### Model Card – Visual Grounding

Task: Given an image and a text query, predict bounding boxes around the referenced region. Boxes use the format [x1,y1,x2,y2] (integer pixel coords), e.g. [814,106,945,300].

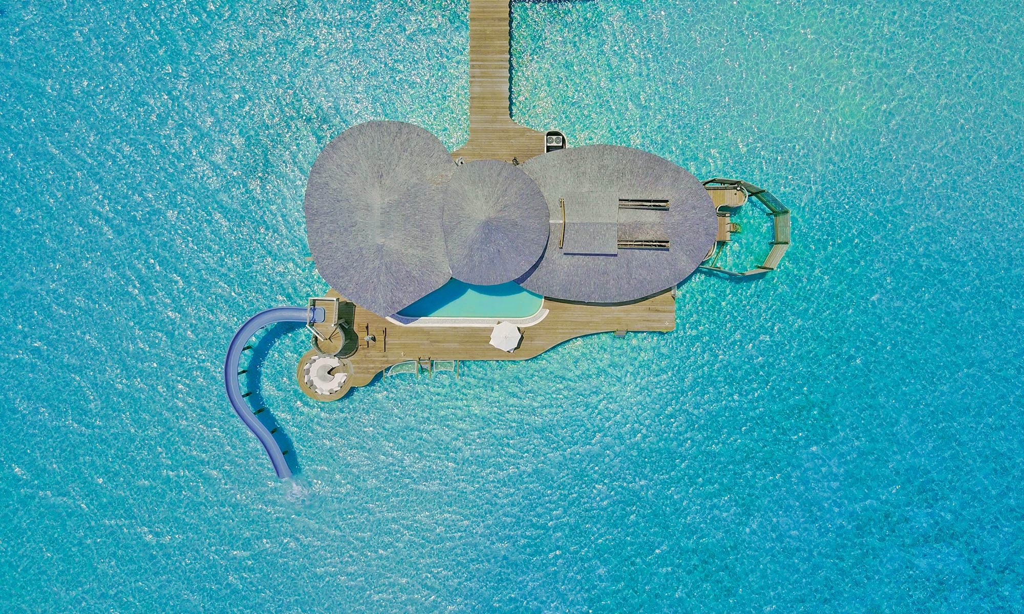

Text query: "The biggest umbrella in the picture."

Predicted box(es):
[491,321,521,351]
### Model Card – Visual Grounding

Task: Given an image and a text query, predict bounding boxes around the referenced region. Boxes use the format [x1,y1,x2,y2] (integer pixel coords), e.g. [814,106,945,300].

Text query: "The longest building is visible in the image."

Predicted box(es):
[304,120,718,318]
